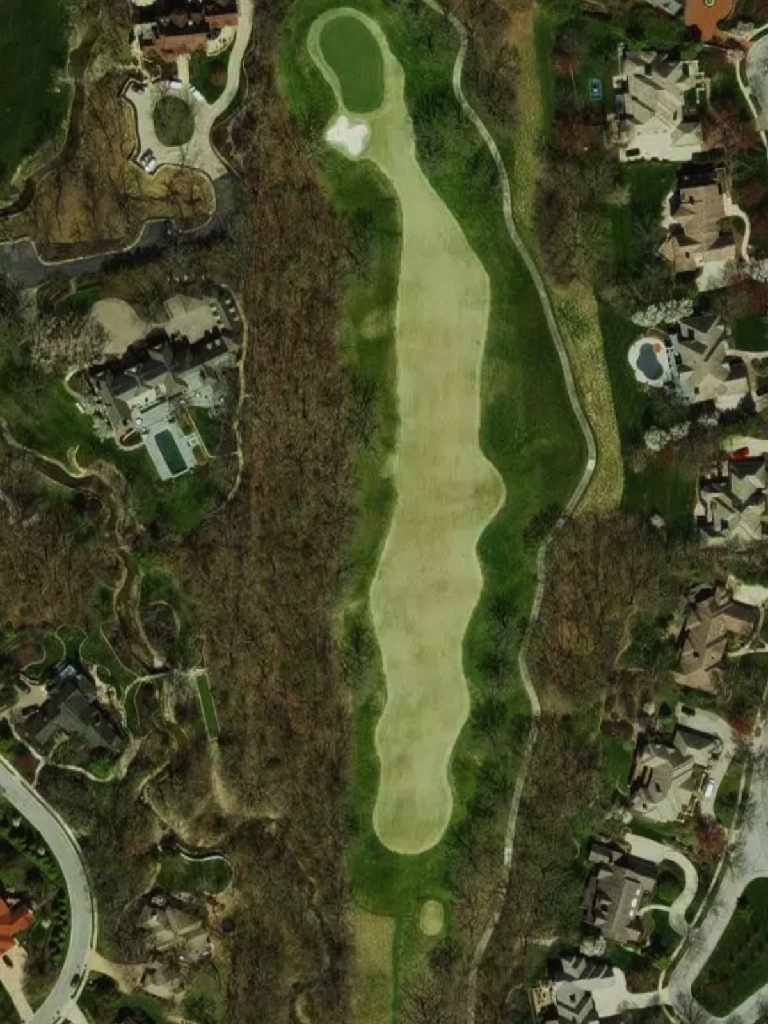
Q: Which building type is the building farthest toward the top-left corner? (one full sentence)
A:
In the photo, the building farthest toward the top-left corner shows up as a home.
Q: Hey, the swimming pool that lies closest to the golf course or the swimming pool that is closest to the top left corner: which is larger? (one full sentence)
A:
The swimming pool that is closest to the top left corner is smaller than the swimming pool that lies closest to the golf course.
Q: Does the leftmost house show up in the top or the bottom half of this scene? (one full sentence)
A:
Seen from above, the leftmost house lies in the bottom half of the view.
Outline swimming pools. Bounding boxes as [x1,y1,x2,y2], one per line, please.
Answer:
[628,338,671,388]
[154,429,188,475]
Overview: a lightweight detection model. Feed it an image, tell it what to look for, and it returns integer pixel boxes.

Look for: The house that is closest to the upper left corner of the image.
[143,2,239,62]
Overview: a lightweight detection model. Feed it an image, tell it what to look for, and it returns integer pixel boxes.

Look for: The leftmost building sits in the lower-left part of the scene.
[0,902,36,952]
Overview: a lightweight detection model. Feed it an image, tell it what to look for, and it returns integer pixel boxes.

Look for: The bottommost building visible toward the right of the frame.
[533,957,617,1024]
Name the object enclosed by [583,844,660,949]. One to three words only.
house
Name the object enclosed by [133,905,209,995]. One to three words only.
house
